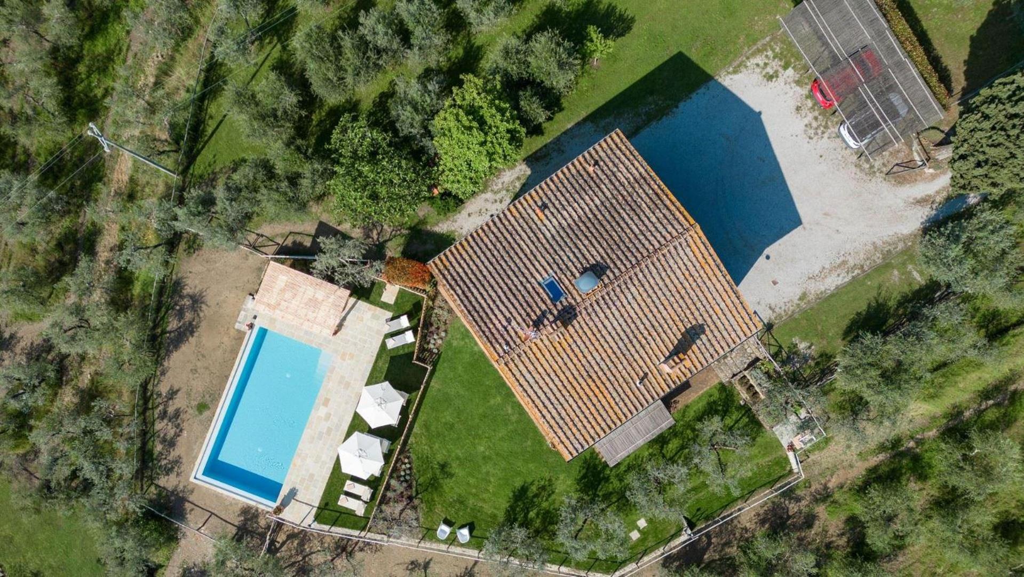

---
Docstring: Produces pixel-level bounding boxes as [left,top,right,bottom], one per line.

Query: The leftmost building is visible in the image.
[252,261,361,336]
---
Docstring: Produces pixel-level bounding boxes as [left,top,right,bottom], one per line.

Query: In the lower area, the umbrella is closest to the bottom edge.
[341,428,385,479]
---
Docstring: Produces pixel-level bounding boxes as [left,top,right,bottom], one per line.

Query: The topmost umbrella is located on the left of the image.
[357,377,408,430]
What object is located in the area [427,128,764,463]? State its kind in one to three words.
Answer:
house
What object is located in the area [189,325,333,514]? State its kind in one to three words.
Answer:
swimming pool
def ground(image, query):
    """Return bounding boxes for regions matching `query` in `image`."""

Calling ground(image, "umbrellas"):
[341,428,385,479]
[357,377,408,430]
